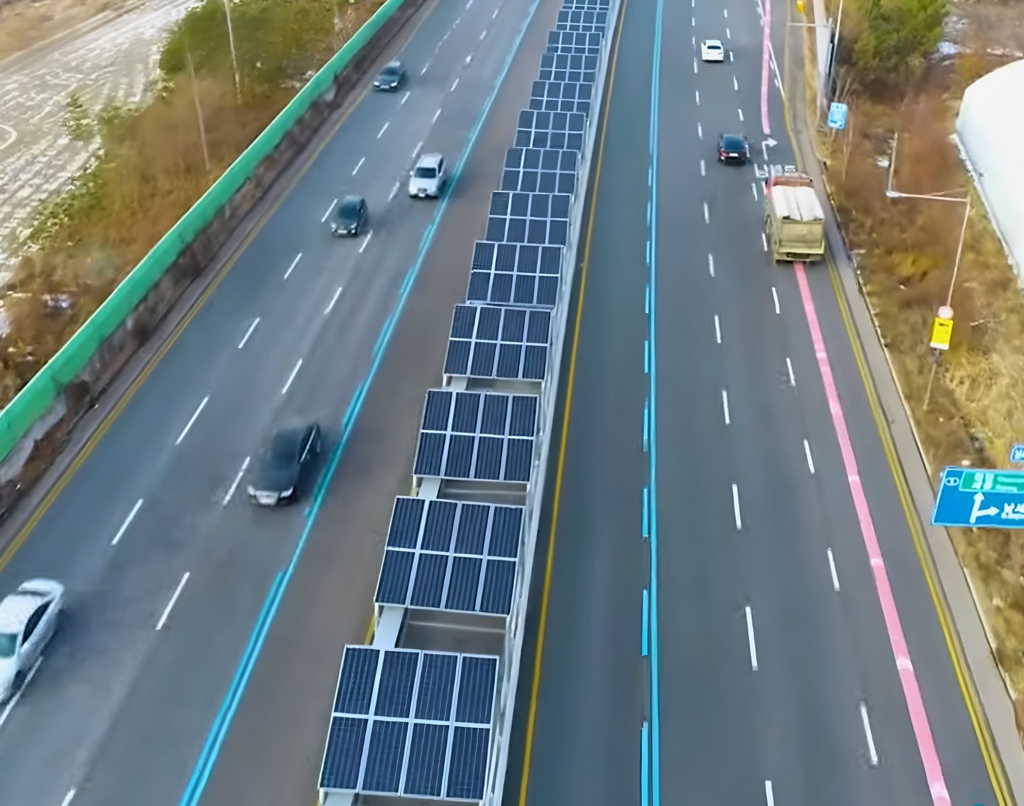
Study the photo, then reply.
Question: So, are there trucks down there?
Yes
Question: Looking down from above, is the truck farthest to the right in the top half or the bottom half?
top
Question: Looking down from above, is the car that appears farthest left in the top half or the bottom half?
bottom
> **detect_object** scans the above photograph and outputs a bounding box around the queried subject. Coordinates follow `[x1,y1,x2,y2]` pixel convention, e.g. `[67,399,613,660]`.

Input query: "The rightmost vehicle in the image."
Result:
[767,172,831,264]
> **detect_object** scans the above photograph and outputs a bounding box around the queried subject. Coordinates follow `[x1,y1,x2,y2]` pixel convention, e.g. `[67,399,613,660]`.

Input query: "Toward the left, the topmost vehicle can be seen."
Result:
[376,63,406,88]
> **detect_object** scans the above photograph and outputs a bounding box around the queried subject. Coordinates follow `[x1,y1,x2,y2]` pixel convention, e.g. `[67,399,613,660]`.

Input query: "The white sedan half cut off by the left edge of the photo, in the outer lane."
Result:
[0,578,66,688]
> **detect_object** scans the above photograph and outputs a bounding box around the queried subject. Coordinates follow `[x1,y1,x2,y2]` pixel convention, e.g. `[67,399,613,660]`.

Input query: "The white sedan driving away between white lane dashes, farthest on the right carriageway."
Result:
[699,39,724,60]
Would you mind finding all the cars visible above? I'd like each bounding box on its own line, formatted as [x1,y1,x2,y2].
[329,197,371,237]
[0,578,66,688]
[376,63,406,88]
[410,153,447,195]
[699,39,724,60]
[250,424,319,506]
[715,135,747,164]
